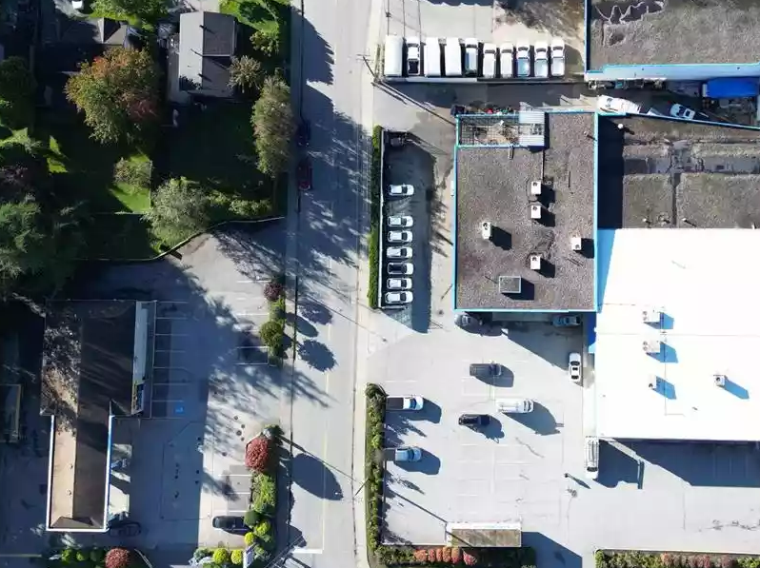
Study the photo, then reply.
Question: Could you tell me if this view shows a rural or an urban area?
urban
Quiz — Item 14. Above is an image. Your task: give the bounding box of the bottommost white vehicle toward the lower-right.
[585,435,600,476]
